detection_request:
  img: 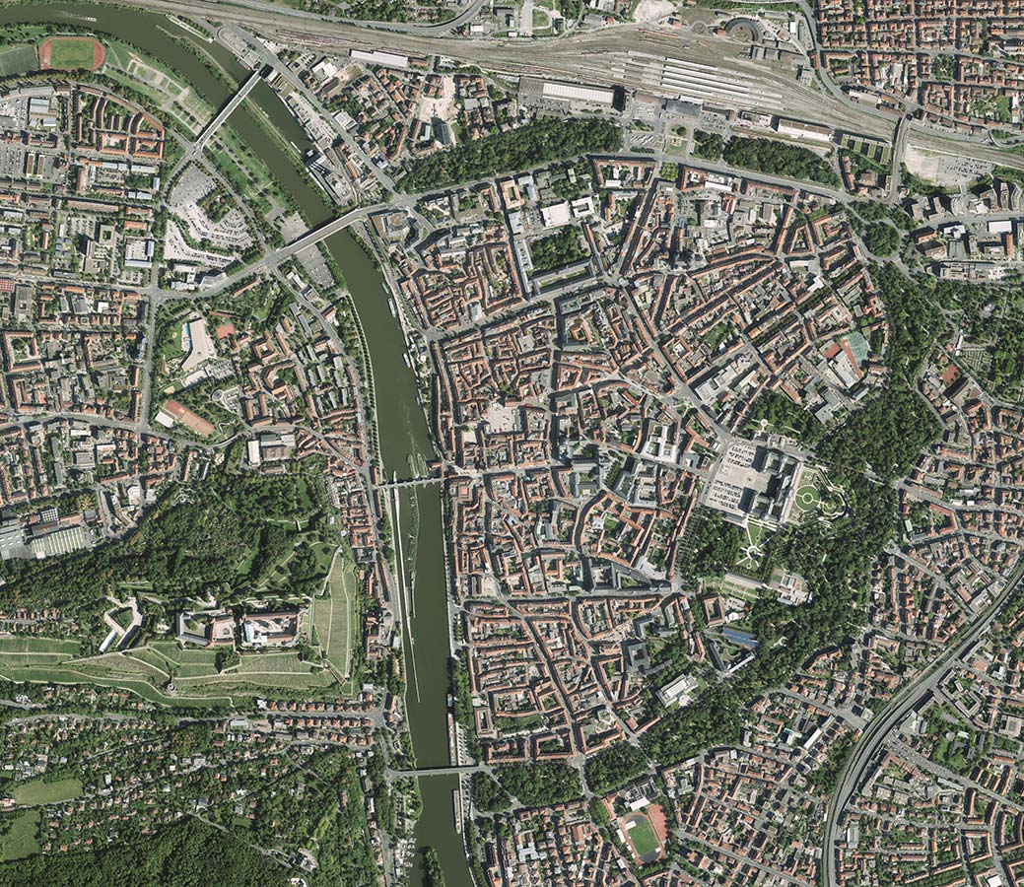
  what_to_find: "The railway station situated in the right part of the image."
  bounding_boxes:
[611,51,784,116]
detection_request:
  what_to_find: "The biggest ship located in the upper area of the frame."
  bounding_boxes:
[167,14,199,36]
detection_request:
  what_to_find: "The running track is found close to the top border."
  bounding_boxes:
[39,37,106,71]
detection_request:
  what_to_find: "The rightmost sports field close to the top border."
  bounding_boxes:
[51,40,94,67]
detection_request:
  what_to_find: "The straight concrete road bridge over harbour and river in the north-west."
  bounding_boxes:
[192,70,263,151]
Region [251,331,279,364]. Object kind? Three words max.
building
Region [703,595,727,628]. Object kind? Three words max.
building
